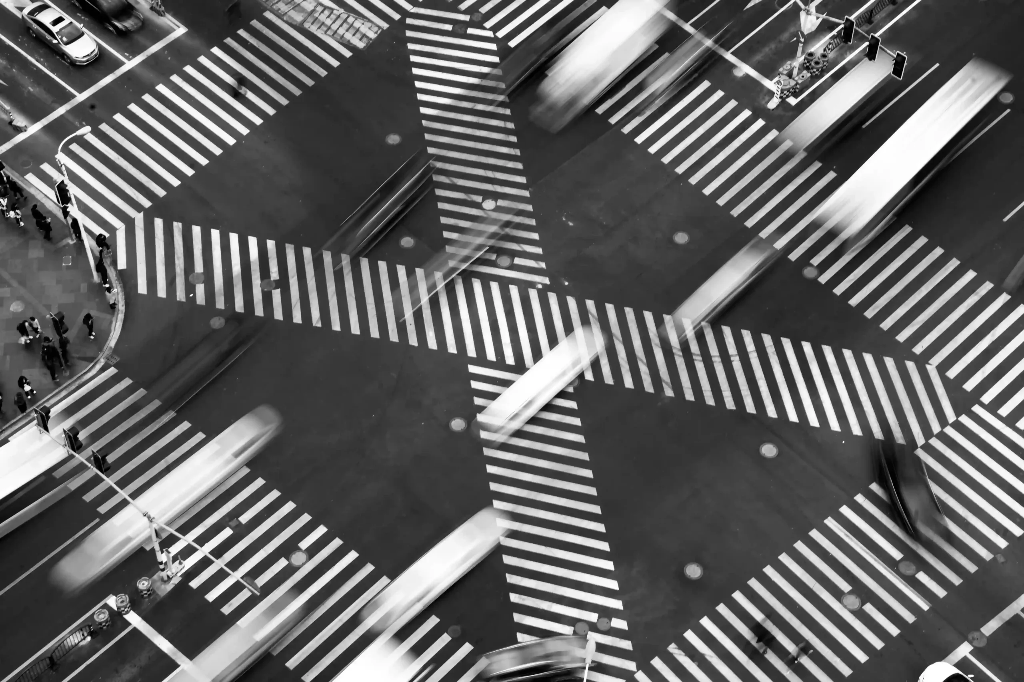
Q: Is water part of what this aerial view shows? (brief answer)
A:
No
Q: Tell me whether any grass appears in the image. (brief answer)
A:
No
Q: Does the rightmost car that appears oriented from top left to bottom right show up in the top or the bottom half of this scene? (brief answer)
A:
bottom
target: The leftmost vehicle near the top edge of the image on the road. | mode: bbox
[18,0,99,66]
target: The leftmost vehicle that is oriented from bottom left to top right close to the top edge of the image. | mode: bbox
[500,3,577,76]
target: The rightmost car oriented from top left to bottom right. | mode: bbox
[874,438,955,542]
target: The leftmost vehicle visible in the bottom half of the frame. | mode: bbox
[0,437,88,556]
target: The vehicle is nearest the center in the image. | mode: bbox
[485,339,584,430]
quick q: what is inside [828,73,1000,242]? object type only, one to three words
vehicle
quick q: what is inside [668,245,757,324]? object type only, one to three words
car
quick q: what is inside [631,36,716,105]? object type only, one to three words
car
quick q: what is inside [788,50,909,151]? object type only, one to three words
van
